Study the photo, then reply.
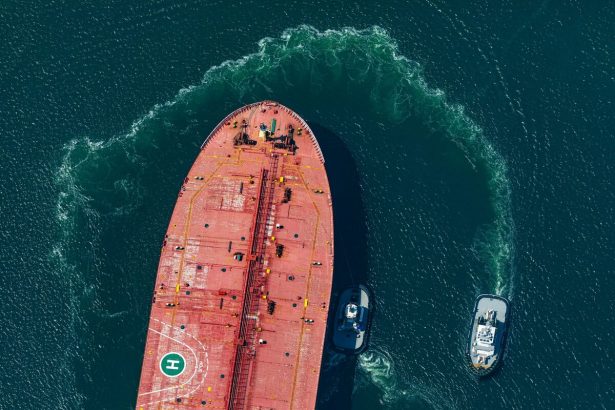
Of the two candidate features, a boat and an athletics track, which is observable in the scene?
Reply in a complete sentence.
There is a boat in the scene.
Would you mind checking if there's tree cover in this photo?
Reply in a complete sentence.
No, the scene doesn't show any tree cover.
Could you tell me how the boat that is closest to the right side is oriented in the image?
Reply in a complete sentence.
The boat that is closest to the right side runs vertically in the image.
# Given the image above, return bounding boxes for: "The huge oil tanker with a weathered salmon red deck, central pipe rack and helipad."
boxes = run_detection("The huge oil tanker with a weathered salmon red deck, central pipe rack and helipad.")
[136,98,335,410]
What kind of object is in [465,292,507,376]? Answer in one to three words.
boat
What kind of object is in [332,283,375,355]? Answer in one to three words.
boat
